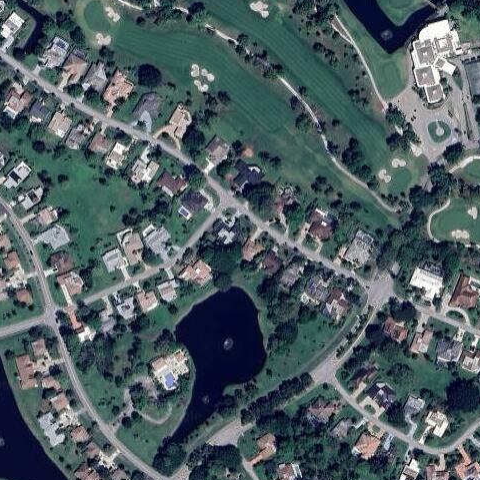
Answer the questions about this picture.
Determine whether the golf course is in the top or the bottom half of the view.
top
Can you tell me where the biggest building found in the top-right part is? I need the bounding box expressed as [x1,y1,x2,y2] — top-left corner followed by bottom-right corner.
[412,20,461,103]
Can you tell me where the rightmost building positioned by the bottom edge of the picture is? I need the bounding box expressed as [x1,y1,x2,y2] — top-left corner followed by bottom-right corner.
[455,459,480,480]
